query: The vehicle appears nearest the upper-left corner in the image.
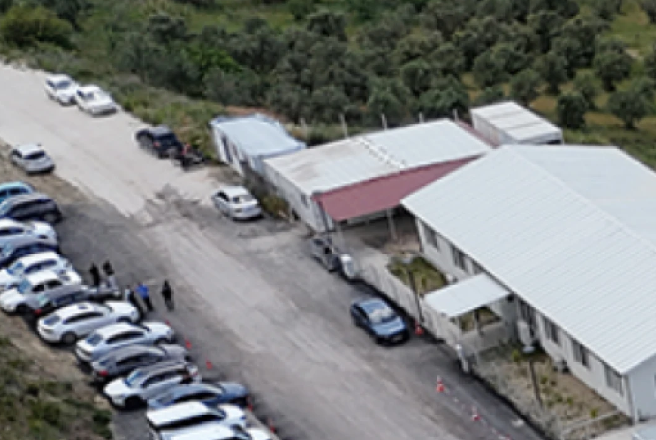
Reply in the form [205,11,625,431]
[37,76,83,111]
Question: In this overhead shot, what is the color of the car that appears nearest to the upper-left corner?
white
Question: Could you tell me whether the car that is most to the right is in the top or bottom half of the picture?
bottom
